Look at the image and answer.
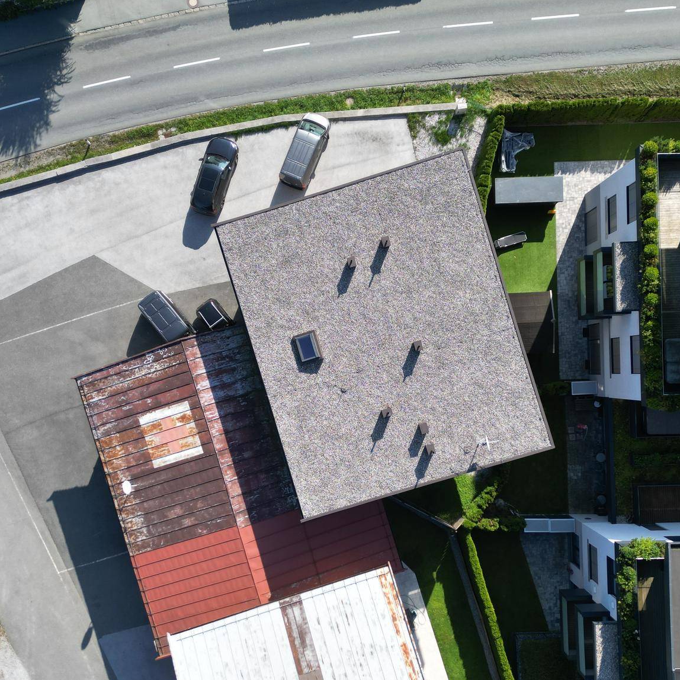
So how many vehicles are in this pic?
4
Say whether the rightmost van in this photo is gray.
Yes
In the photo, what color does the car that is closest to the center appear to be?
black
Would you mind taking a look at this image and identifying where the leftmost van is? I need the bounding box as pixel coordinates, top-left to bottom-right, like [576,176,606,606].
[139,290,201,346]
